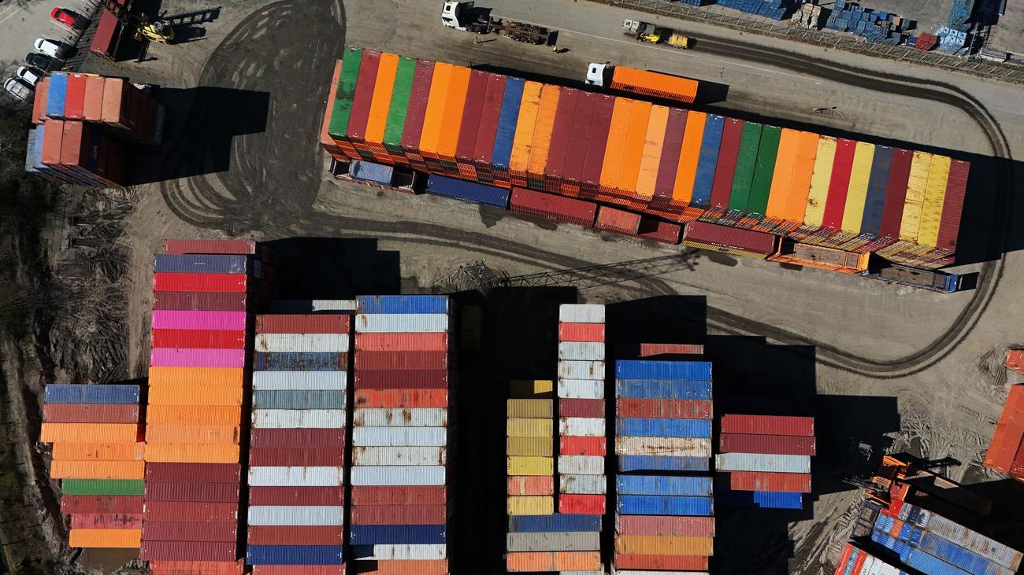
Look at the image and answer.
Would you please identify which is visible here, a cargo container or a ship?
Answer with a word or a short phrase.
cargo container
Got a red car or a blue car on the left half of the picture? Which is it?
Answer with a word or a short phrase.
red car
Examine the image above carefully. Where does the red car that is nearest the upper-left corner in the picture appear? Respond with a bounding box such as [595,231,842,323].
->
[51,8,82,29]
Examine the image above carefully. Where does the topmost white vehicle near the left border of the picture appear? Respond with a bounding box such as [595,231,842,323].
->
[36,38,66,60]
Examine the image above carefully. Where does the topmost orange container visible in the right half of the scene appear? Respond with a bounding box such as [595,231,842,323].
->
[613,58,699,95]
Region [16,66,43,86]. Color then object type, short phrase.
white car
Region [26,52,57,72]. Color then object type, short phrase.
black car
